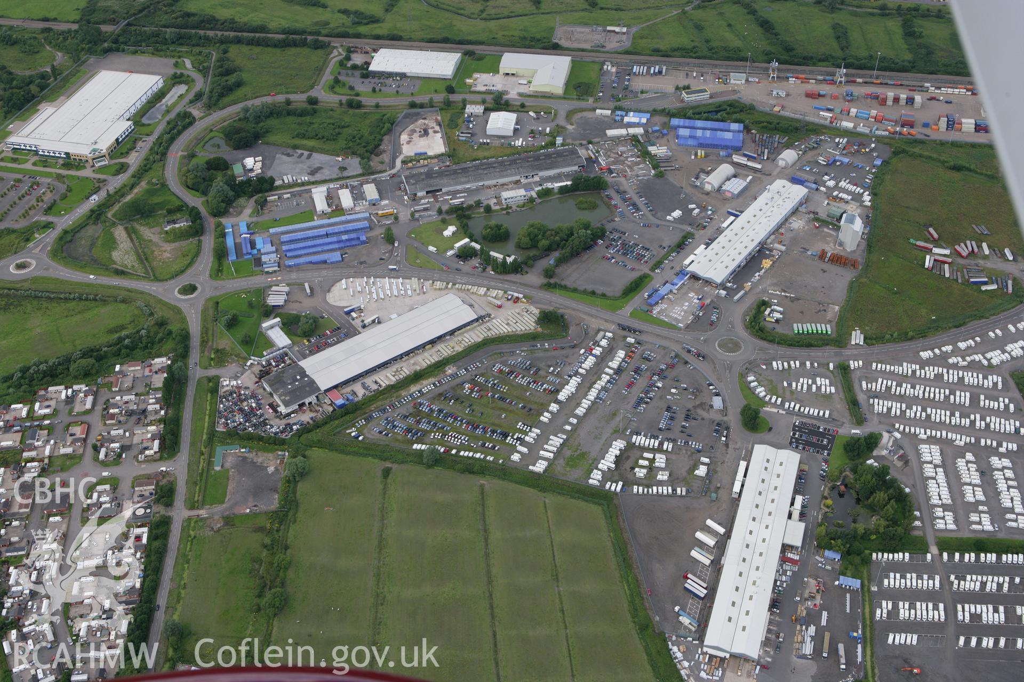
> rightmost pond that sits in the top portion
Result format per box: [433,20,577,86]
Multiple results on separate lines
[468,192,611,259]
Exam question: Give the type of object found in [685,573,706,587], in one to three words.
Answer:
vehicle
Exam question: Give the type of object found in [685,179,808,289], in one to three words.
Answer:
warehouse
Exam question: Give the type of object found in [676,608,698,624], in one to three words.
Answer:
vehicle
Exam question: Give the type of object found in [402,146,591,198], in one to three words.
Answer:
building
